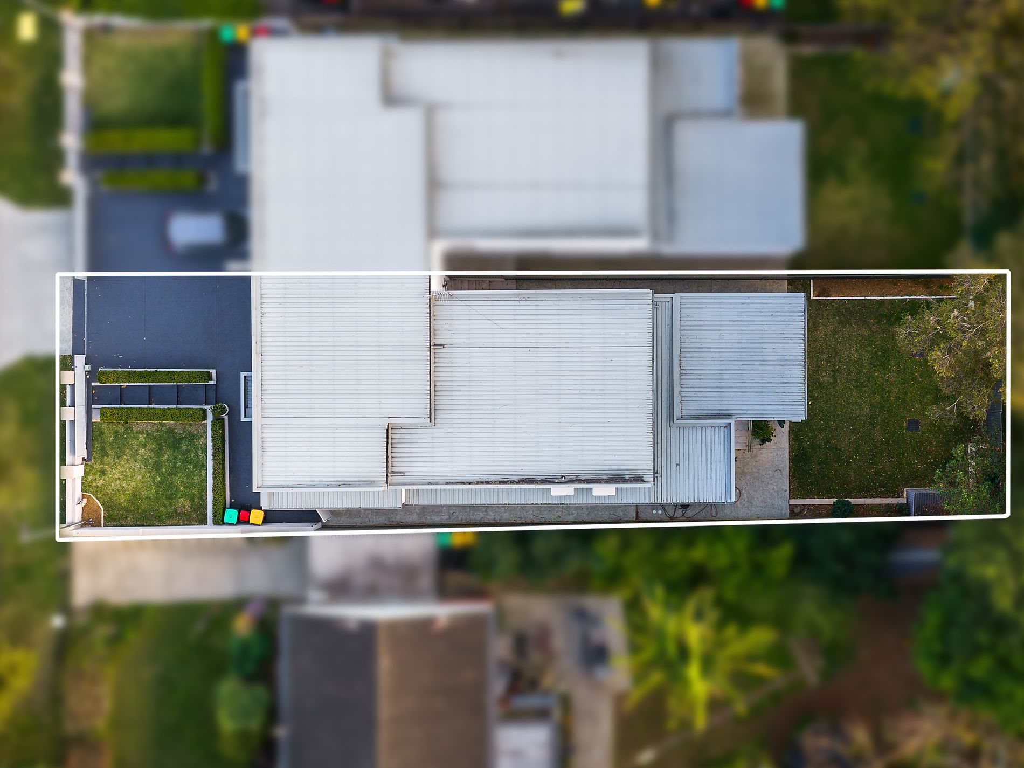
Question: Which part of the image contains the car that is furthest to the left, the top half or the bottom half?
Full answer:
The car that is furthest to the left sits in the top half of the picture.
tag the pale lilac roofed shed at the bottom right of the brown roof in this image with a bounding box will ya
[497,703,557,768]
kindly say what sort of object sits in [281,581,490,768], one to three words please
house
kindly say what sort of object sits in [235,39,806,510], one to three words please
house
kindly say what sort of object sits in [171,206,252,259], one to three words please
car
